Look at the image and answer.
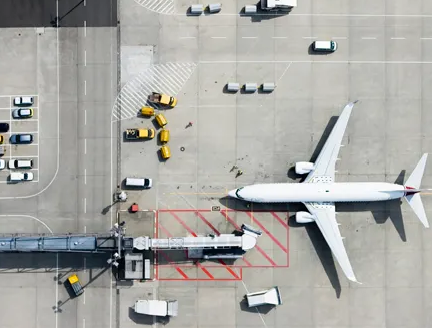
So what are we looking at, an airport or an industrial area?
airport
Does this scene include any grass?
No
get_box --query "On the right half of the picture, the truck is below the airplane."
[245,284,282,306]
